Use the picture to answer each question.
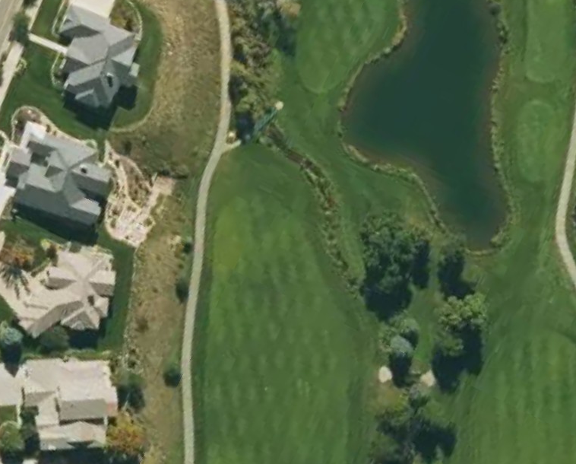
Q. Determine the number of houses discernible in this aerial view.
four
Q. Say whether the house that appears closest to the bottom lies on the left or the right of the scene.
left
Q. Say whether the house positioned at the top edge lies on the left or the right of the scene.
left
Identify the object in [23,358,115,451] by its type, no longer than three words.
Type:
house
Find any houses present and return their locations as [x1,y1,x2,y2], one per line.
[18,247,116,344]
[5,134,114,225]
[59,2,139,110]
[23,358,115,451]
